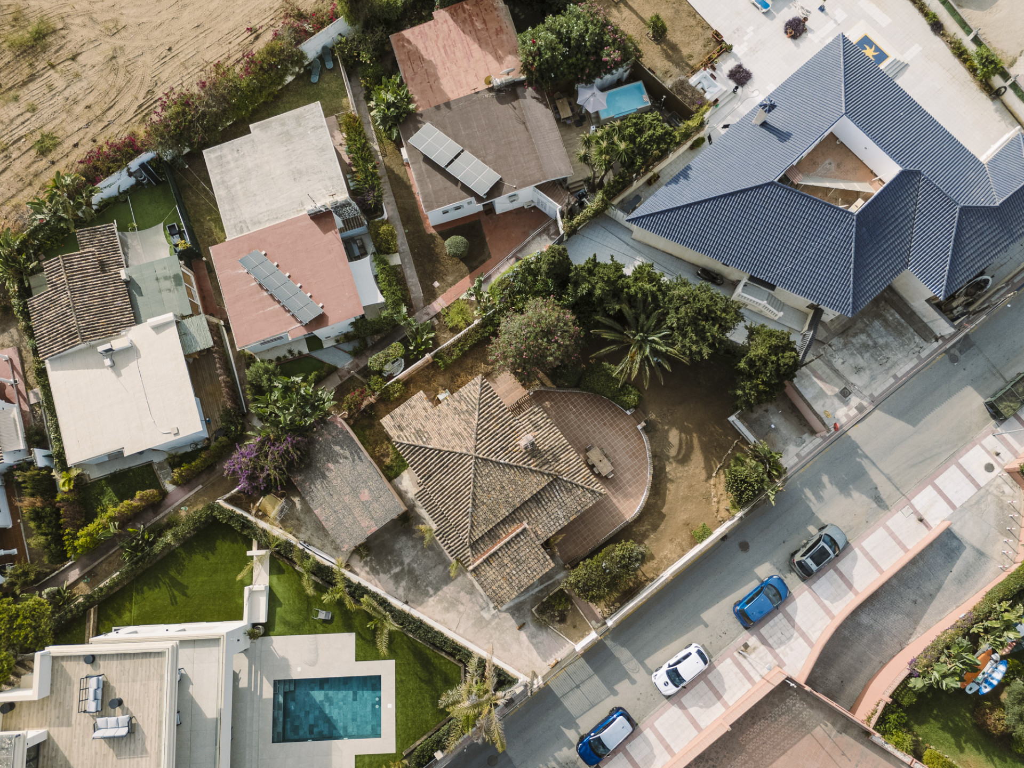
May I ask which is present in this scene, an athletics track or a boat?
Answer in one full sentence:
There is a boat in the scene.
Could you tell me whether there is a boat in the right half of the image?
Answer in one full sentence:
Yes, looking in the right half of the image, one can make out a boat.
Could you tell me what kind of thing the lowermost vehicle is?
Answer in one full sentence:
What you see as the lowermost vehicle is a car.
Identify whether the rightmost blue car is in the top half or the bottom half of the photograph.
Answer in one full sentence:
You can find the rightmost blue car in the bottom half.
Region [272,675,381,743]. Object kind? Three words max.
swimming pool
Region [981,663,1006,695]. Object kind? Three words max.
boat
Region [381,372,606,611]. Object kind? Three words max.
house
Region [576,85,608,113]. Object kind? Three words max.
umbrella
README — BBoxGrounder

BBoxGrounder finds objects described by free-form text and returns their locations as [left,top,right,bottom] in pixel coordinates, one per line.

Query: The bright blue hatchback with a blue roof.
[729,572,789,629]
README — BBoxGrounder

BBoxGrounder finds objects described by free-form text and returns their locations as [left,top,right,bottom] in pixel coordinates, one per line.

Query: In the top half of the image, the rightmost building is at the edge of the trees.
[626,31,1024,318]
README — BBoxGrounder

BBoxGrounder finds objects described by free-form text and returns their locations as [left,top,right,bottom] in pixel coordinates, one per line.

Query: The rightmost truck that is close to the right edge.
[983,367,1024,428]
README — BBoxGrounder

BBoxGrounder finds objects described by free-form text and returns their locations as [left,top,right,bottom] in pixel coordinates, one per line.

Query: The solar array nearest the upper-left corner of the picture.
[239,250,324,328]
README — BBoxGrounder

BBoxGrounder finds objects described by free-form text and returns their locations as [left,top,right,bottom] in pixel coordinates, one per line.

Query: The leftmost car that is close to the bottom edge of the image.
[577,706,636,766]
